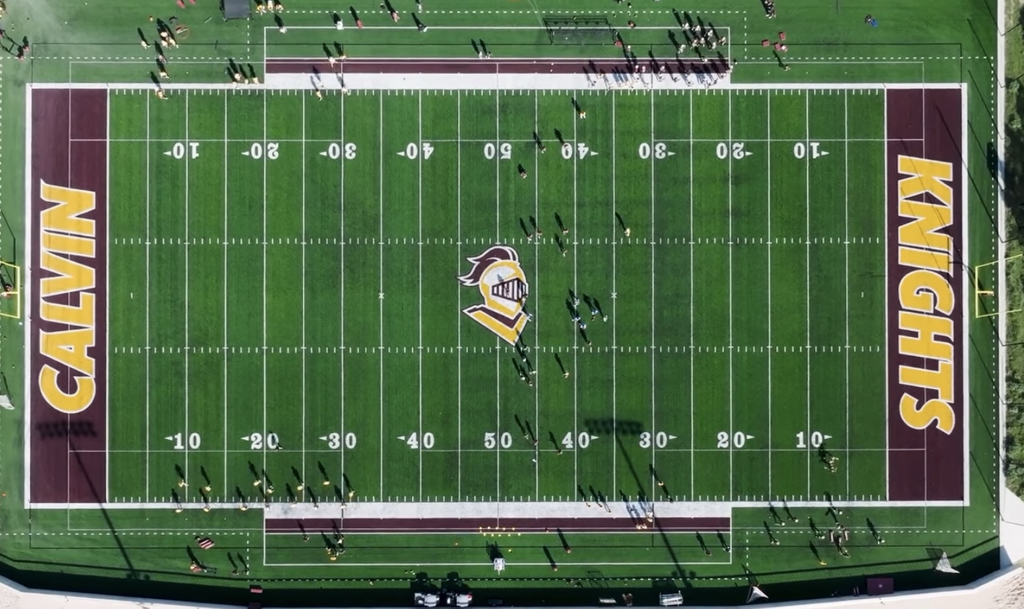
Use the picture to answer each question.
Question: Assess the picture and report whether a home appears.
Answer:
No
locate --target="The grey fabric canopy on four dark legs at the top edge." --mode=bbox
[224,0,257,30]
